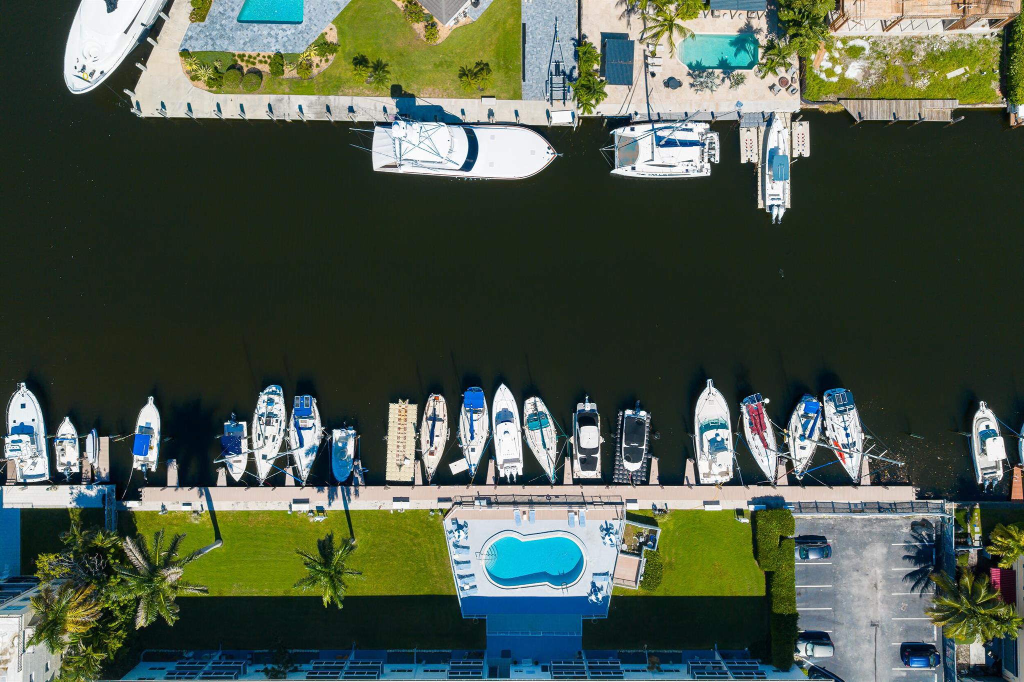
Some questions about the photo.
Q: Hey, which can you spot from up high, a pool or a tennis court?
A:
pool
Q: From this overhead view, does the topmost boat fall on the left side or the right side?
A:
left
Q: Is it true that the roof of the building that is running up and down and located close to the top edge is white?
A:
No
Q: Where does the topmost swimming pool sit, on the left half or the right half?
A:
left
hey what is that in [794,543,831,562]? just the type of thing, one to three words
car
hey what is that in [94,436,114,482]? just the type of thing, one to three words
pier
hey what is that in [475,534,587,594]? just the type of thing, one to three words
swimming pool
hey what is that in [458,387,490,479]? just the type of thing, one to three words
boat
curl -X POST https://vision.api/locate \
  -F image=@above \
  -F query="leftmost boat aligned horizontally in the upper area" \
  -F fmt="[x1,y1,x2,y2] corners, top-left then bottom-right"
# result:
[349,109,563,179]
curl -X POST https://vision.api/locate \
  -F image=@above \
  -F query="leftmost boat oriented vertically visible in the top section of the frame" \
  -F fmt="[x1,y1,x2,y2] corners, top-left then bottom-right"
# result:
[706,131,720,164]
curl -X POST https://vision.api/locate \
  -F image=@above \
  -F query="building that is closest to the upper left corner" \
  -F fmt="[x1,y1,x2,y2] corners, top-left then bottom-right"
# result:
[418,0,473,28]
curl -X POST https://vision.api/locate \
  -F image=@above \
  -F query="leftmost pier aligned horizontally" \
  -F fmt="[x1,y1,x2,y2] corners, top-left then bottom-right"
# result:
[2,484,118,508]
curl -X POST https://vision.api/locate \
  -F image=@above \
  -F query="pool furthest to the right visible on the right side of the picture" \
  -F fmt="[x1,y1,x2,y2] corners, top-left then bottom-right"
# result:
[674,30,762,72]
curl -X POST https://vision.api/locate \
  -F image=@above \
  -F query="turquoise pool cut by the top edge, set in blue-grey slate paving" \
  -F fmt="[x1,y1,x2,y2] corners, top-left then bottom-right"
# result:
[234,0,306,27]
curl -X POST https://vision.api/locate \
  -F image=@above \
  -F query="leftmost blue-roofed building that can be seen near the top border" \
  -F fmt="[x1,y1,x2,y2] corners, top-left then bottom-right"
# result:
[605,31,635,91]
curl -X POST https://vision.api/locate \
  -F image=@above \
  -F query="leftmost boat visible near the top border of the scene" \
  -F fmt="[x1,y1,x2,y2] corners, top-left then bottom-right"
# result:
[61,0,177,94]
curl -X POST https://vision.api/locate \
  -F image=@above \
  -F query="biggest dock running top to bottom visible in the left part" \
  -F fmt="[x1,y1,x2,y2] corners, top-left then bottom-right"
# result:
[386,399,418,480]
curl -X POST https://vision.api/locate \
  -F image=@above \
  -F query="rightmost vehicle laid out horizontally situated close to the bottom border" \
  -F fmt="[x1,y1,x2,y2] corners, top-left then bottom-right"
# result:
[900,649,939,668]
